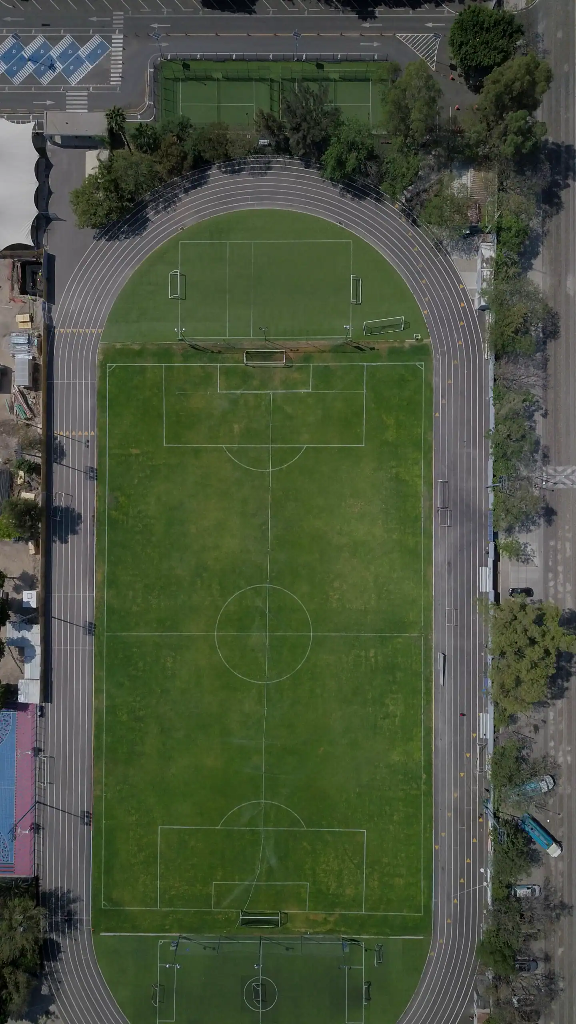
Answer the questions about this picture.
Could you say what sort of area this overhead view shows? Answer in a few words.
sports ground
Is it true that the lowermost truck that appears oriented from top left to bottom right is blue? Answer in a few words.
Yes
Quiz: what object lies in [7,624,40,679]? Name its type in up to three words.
shed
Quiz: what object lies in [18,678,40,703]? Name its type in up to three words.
shed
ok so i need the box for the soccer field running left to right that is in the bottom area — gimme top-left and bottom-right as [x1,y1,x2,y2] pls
[92,933,432,1024]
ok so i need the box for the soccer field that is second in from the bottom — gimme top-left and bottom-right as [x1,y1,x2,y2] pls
[91,343,434,935]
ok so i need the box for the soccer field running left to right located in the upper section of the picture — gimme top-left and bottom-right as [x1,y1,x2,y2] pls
[101,208,430,343]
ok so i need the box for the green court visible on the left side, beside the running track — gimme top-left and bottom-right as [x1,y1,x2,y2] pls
[161,69,271,132]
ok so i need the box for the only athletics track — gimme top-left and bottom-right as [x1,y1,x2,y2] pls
[39,156,486,1024]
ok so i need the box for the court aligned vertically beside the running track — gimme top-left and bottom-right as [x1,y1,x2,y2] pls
[0,703,37,877]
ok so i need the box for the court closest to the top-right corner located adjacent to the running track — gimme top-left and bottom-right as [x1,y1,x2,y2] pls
[281,69,390,132]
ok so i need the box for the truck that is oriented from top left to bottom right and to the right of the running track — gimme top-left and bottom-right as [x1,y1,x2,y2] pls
[515,808,560,856]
